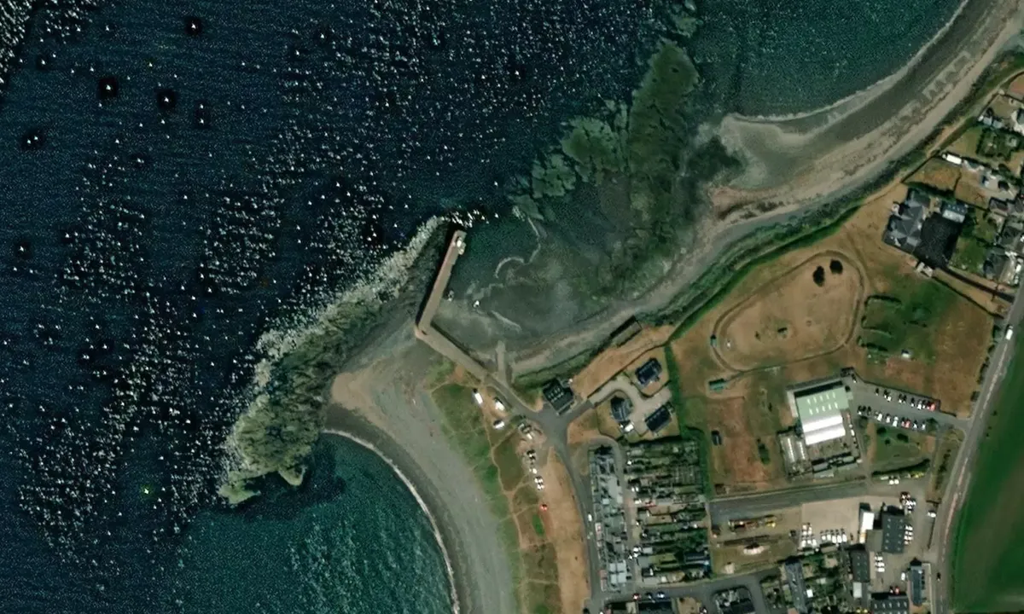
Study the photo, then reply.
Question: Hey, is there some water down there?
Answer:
Yes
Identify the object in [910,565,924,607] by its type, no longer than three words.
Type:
house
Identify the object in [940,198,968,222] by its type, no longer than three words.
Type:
shed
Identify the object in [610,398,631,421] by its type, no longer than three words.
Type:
house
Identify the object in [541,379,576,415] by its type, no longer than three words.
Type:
building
